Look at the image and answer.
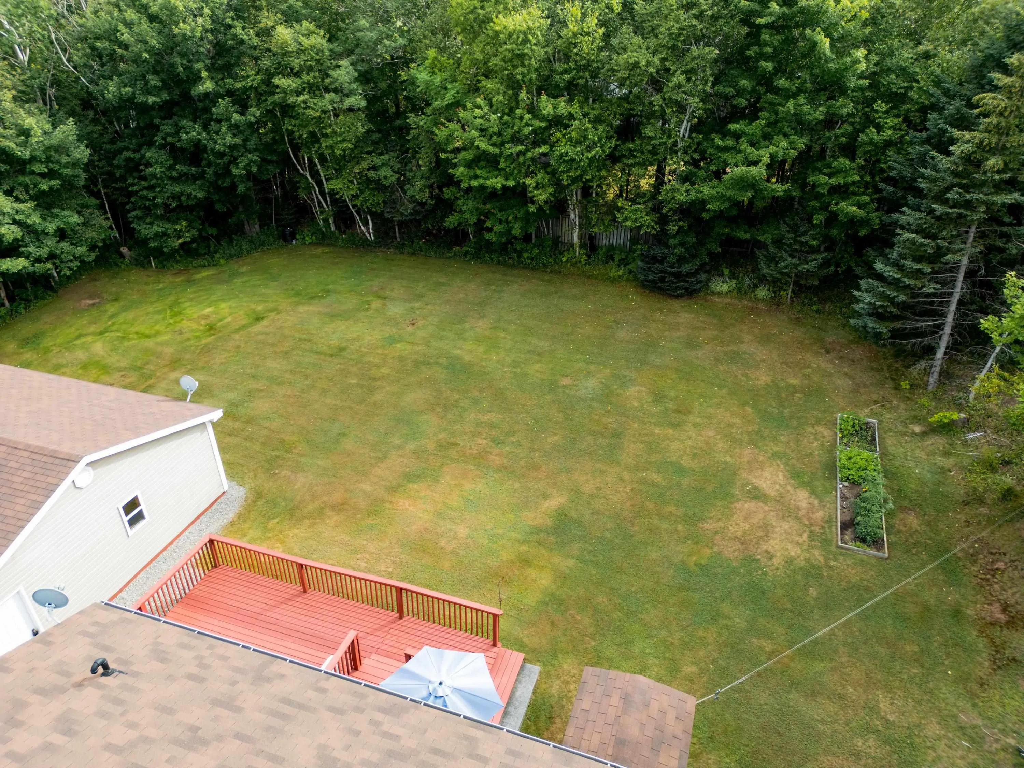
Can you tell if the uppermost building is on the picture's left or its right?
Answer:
left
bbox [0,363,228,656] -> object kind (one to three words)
building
